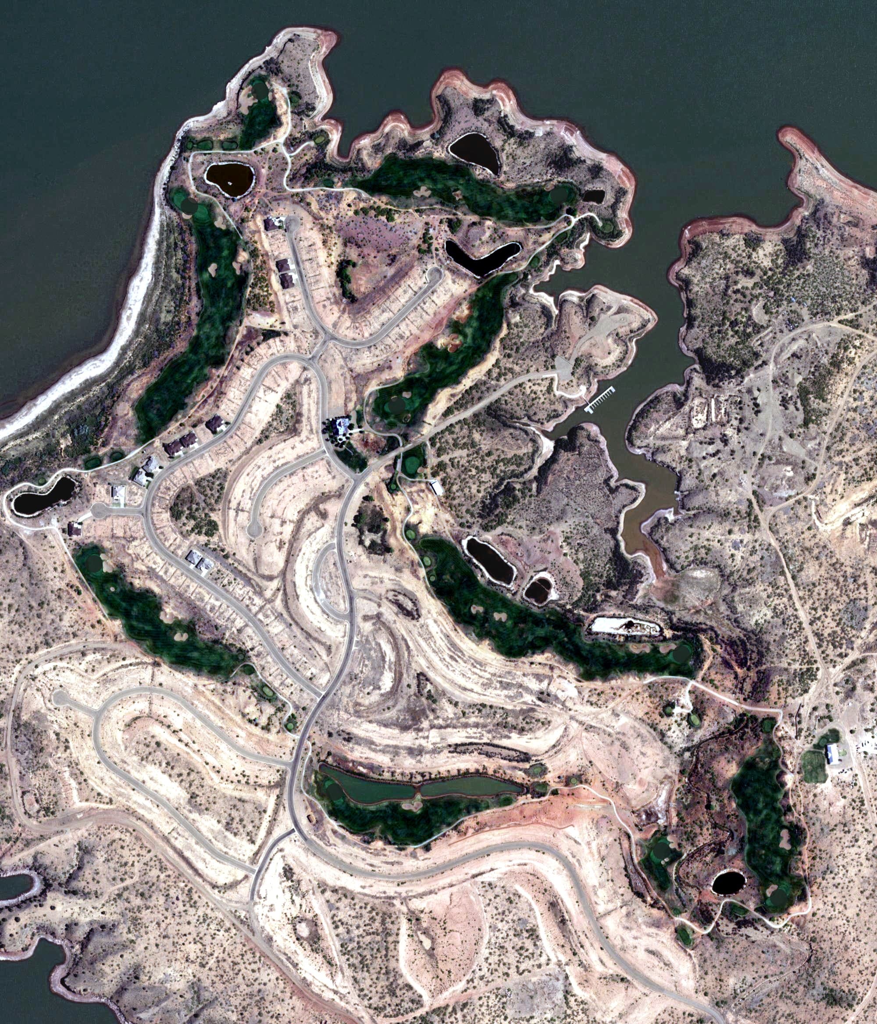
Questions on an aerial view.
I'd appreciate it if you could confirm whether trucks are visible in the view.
No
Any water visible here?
Yes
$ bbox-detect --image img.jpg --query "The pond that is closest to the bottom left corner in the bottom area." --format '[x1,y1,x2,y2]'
[319,764,416,805]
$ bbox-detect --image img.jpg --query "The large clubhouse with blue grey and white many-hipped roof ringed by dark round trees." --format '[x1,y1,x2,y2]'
[332,417,350,439]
